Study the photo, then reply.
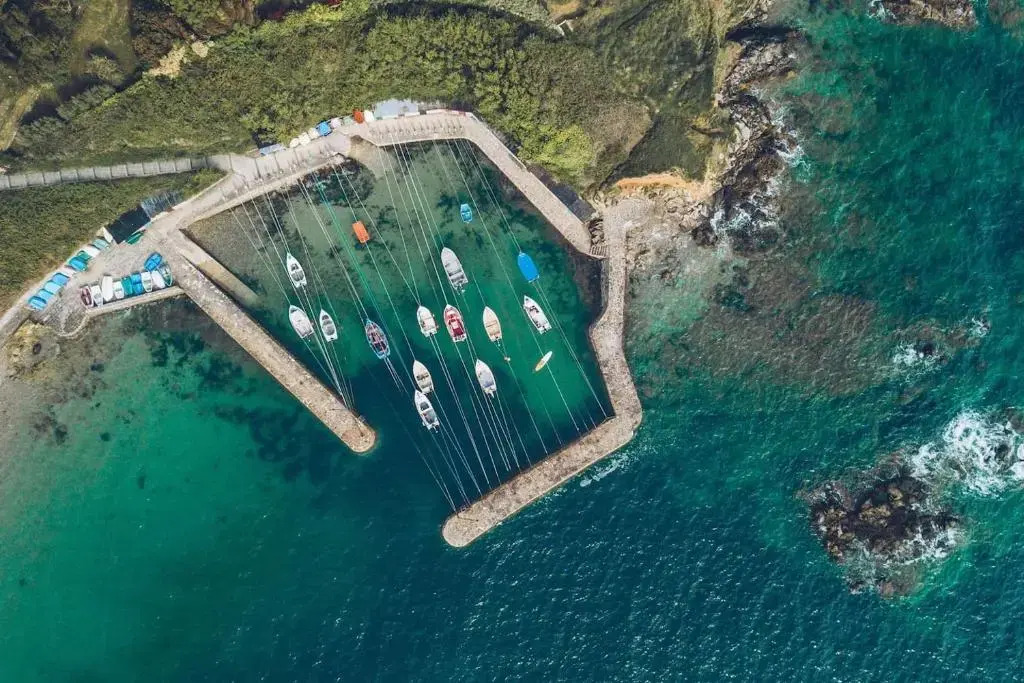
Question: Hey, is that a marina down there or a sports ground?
marina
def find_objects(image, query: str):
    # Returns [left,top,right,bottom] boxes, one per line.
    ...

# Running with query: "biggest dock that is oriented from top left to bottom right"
[185,256,380,453]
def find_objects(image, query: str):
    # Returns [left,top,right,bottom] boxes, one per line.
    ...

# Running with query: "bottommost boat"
[416,390,440,432]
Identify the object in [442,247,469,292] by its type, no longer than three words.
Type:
boat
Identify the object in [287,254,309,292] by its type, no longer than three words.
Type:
boat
